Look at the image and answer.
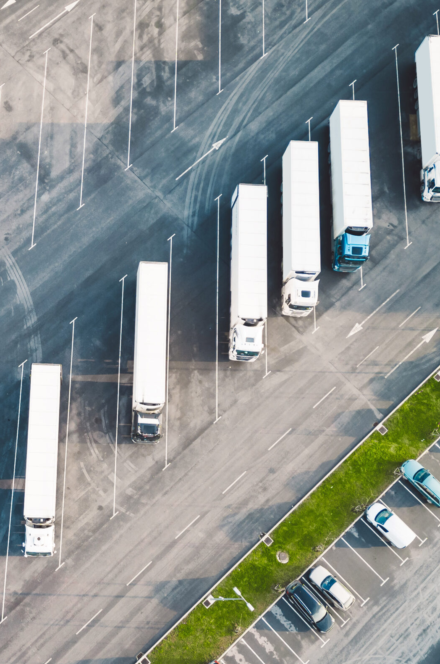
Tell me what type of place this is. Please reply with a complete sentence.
This looks like a parking lot.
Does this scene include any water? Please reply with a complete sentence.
No, water can't be seen anywhere here.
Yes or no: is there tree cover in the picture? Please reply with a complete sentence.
No, tree cover can't be seen anywhere here.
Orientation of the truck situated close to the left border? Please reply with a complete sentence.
In this picture, the truck situated close to the left border lies up and down.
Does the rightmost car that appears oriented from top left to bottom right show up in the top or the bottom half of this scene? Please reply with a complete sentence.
You can find the rightmost car that appears oriented from top left to bottom right in the bottom half.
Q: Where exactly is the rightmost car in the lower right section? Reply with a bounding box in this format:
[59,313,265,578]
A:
[400,460,440,509]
